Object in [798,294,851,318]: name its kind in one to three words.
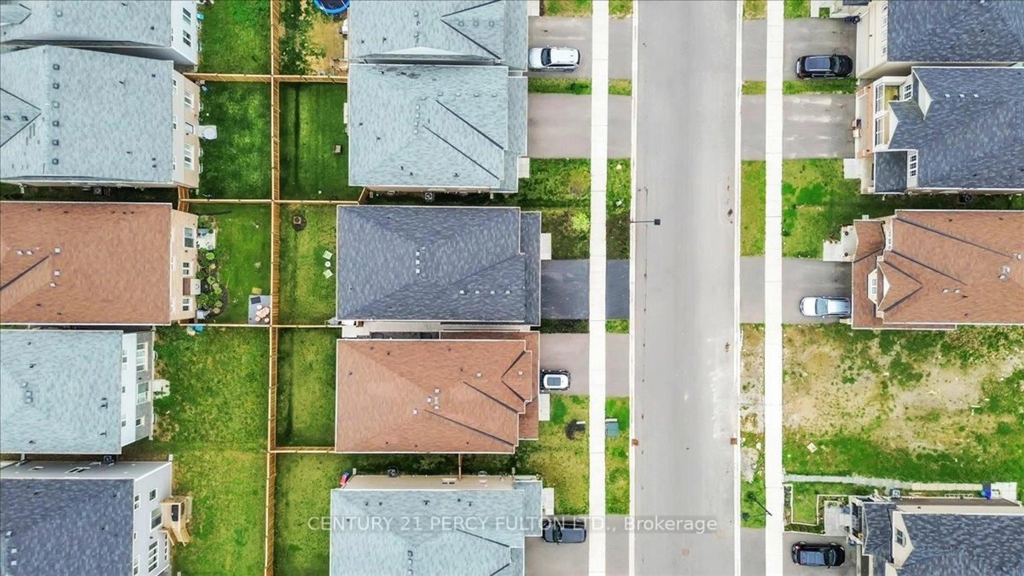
car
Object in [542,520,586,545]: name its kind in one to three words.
car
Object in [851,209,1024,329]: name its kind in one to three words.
house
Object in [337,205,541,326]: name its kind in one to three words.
house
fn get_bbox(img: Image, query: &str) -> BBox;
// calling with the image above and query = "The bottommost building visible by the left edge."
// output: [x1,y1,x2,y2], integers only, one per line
[0,463,184,576]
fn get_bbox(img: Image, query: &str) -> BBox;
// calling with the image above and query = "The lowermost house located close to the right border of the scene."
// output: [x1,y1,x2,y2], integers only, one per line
[848,494,1024,576]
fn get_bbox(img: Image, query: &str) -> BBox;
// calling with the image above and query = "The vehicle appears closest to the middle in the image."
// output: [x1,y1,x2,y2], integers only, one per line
[540,369,570,392]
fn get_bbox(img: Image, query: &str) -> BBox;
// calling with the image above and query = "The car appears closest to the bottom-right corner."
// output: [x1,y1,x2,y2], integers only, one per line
[791,542,846,569]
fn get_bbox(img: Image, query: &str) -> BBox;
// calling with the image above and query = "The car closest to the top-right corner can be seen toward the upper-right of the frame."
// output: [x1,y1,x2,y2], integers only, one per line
[797,52,852,79]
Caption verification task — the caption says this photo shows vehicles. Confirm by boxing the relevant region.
[791,542,846,569]
[529,45,581,72]
[542,520,586,545]
[540,369,570,392]
[798,294,851,318]
[797,52,852,79]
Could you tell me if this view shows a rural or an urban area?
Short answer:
urban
